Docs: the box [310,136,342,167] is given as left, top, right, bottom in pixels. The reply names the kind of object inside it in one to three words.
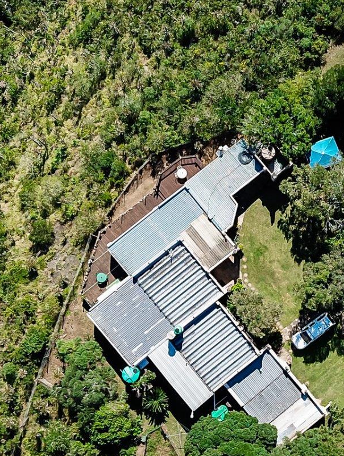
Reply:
gazebo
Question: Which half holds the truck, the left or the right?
right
